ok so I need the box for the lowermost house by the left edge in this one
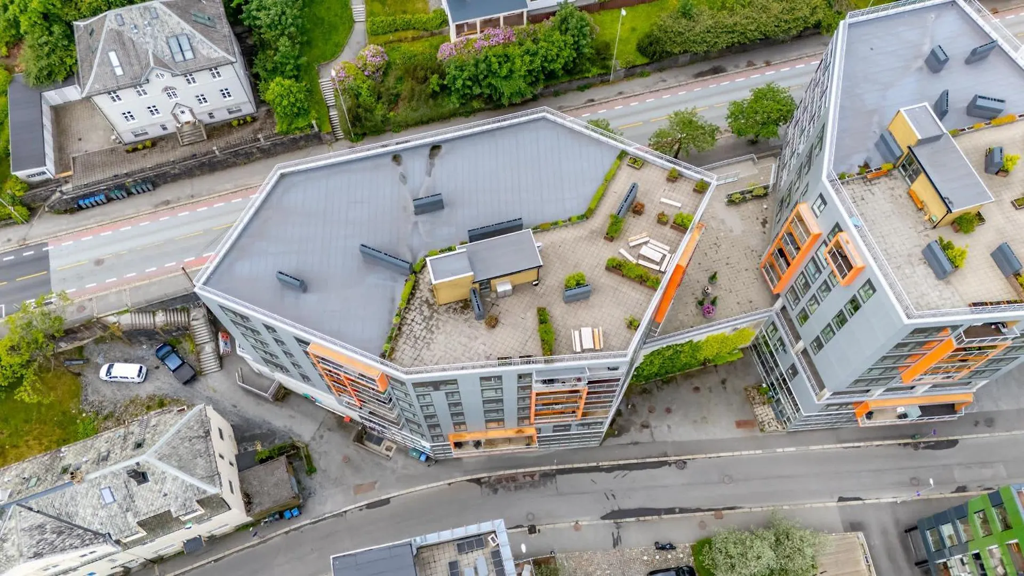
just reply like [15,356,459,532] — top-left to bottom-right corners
[0,404,251,576]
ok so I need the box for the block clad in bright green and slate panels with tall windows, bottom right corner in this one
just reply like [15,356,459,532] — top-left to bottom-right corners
[904,477,1024,576]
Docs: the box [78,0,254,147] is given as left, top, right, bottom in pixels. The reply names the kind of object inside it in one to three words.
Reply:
house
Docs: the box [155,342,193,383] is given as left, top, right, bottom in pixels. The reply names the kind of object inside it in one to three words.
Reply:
truck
